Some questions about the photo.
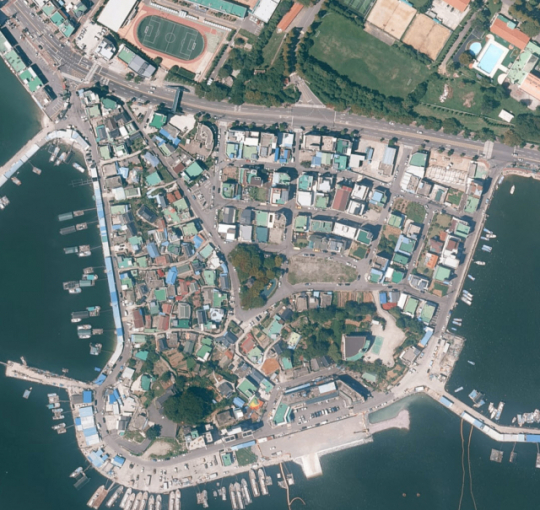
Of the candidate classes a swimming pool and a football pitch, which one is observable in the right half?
swimming pool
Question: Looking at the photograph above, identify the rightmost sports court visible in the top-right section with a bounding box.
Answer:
[402,13,452,60]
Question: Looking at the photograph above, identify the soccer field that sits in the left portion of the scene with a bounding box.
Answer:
[138,16,203,60]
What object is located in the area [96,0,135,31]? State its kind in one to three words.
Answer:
building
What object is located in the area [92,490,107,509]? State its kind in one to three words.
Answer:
boat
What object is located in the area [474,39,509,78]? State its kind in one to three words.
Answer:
swimming pool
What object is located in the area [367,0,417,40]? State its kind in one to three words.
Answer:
sports court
